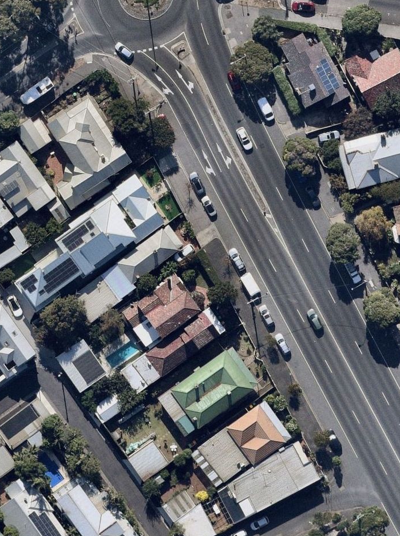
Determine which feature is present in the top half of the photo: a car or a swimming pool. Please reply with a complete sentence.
What appears in the top half of the photo is a car.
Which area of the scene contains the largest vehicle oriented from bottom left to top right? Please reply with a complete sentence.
The largest vehicle oriented from bottom left to top right is located in the top left region of the scene.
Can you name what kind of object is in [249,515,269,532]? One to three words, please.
car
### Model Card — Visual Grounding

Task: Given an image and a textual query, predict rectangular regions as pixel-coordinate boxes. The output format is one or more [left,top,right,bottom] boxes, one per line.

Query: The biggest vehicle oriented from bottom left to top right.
[19,77,57,106]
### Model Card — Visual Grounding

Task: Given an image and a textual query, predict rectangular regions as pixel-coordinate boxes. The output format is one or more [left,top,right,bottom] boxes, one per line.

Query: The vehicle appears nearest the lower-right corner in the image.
[327,428,341,450]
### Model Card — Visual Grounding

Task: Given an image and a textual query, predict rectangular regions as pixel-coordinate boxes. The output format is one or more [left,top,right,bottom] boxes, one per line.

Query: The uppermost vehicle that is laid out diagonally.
[114,43,134,61]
